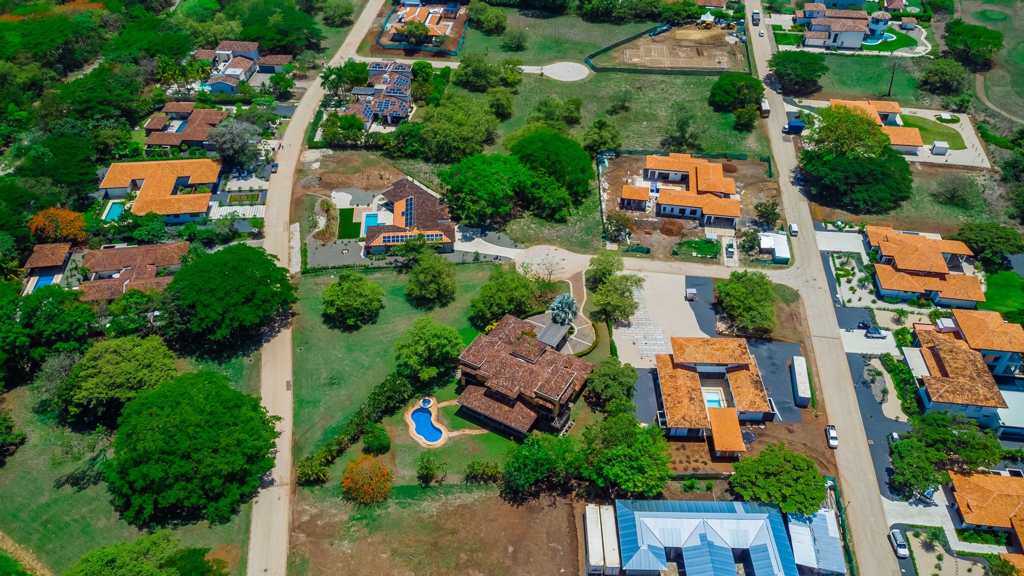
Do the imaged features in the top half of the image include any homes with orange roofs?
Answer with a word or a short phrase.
Yes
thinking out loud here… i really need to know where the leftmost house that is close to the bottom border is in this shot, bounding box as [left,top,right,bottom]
[616,499,800,576]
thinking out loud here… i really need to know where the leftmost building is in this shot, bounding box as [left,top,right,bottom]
[24,242,74,277]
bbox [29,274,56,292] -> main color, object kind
blue swimming pool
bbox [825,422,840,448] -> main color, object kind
white vehicle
